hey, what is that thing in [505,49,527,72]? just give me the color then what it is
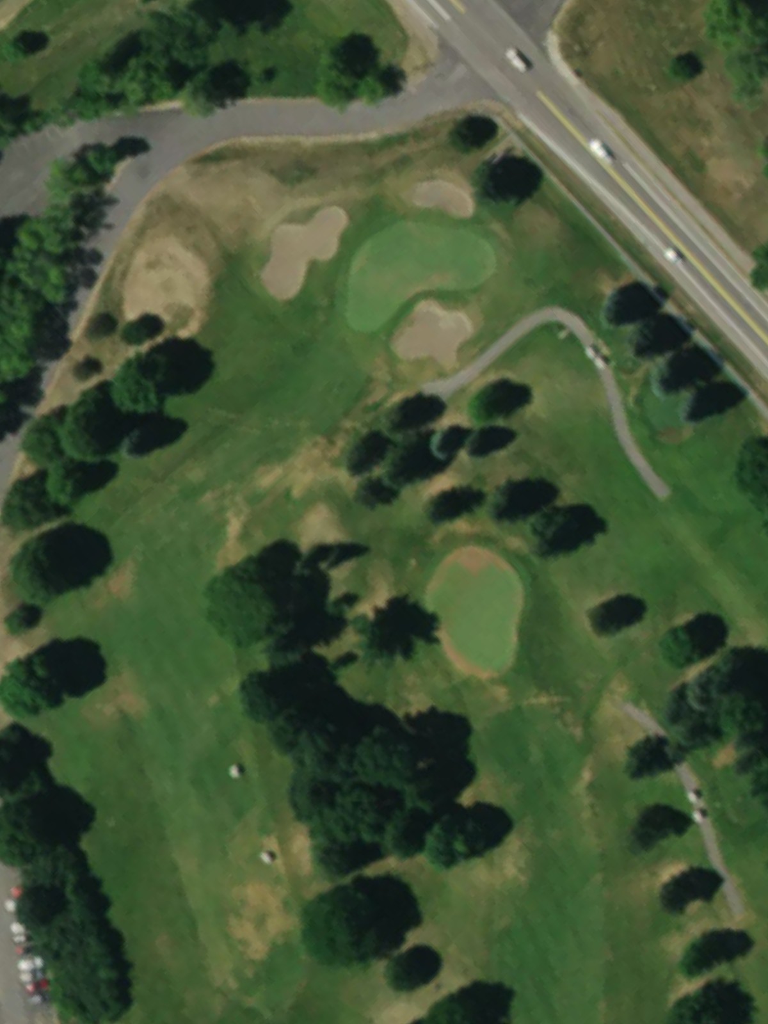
white car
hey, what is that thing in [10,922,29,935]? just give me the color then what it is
white vehicle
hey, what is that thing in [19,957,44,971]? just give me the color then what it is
white car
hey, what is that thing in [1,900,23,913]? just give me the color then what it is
white vehicle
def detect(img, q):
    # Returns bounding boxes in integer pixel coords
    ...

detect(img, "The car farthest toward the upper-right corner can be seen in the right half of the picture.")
[590,139,612,161]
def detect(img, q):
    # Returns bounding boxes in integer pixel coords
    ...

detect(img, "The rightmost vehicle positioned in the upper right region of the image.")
[662,245,681,265]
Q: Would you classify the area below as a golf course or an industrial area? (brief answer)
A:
golf course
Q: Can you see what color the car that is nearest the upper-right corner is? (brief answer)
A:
white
